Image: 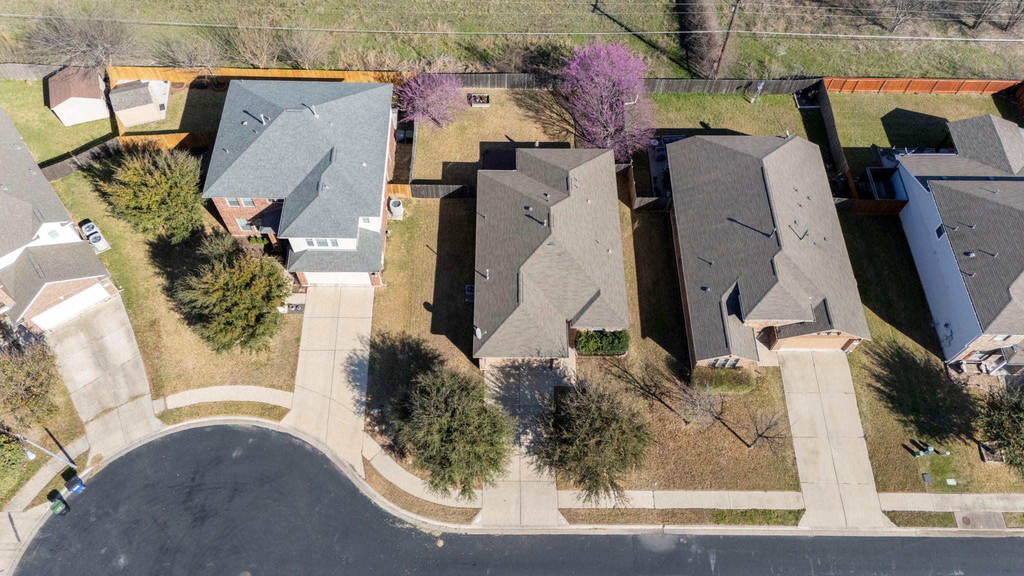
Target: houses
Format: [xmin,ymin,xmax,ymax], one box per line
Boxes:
[889,114,1024,376]
[472,148,630,374]
[667,136,872,372]
[0,98,130,338]
[202,77,397,287]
